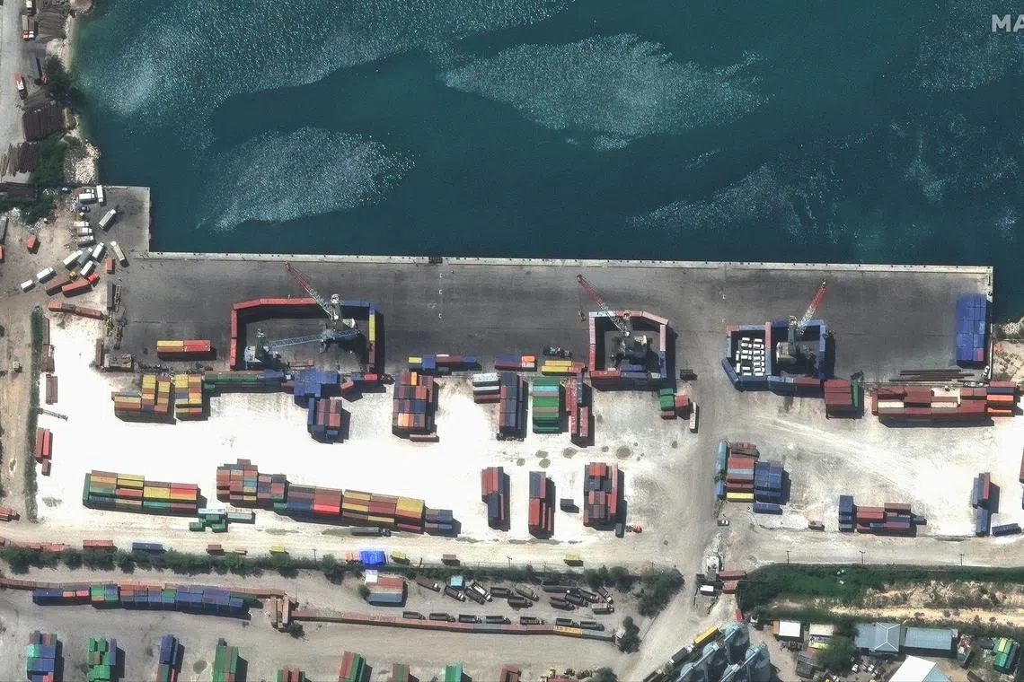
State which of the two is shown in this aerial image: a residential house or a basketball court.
residential house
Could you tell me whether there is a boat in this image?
No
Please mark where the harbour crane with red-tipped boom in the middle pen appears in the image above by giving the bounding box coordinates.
[577,274,651,364]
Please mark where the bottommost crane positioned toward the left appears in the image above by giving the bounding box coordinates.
[242,328,360,372]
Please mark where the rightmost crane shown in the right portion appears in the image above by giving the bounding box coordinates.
[775,279,827,375]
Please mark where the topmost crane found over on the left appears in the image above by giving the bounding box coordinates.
[285,261,365,345]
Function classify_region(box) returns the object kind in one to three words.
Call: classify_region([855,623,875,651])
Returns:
shed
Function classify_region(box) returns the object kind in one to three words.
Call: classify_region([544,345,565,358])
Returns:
vehicle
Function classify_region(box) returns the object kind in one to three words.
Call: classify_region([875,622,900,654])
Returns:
house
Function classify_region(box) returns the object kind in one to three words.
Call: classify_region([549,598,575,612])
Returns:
vehicle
